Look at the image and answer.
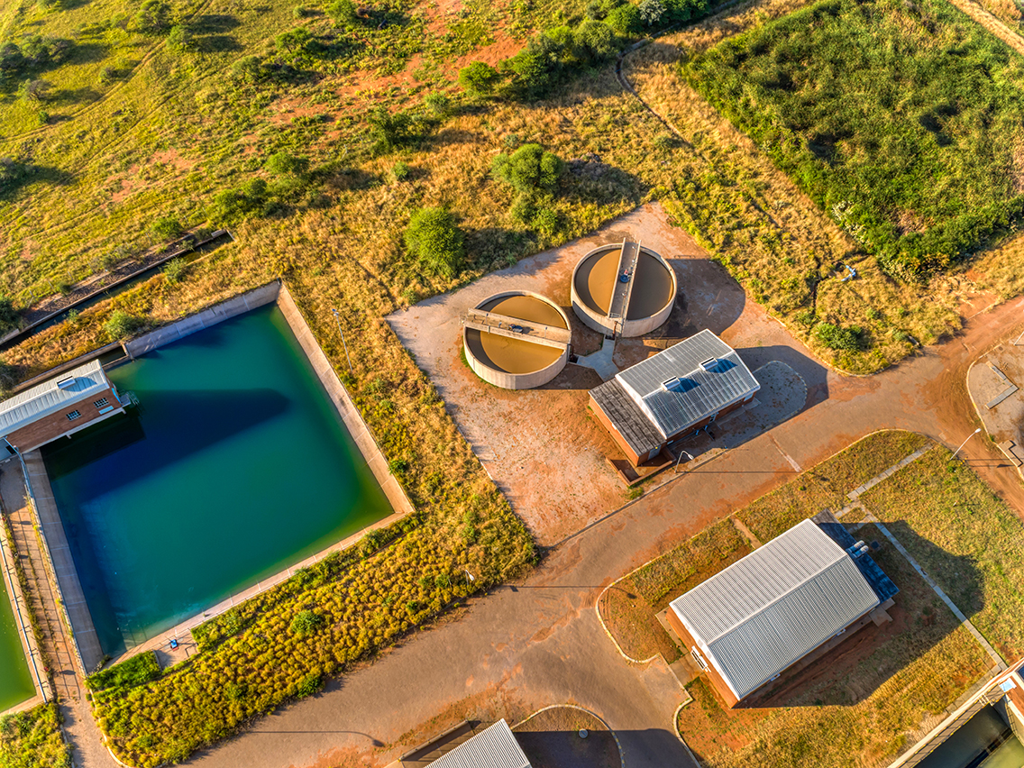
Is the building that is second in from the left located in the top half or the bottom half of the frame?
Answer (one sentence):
Seen from above, the building that is second in from the left lies in the bottom half of the view.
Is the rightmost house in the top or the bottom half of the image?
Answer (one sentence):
It is in the bottom half that the rightmost house appears.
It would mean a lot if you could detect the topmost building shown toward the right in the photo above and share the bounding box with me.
[589,329,761,464]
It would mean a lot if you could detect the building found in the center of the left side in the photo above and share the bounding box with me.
[0,358,140,459]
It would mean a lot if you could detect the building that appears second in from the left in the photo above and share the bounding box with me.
[423,717,532,768]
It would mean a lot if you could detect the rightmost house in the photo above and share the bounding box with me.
[993,660,1024,716]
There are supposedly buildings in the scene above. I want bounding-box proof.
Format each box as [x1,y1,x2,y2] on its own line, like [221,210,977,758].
[667,509,900,705]
[993,660,1024,716]
[0,358,140,459]
[589,329,761,464]
[423,717,532,768]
